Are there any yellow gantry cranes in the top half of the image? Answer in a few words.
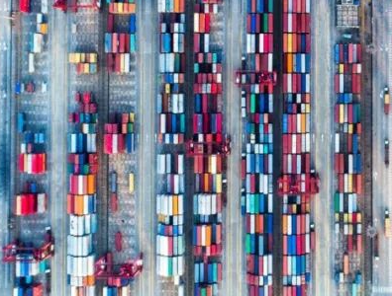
No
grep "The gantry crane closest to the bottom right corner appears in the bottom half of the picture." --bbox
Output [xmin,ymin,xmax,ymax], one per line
[277,169,321,191]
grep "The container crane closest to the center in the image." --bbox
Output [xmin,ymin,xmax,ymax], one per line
[187,134,234,155]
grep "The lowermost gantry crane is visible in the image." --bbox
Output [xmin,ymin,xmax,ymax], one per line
[96,254,145,279]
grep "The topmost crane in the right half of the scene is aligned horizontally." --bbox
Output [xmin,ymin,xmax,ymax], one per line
[235,70,279,90]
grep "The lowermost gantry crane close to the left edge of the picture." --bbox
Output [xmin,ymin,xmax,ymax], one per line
[4,236,57,260]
